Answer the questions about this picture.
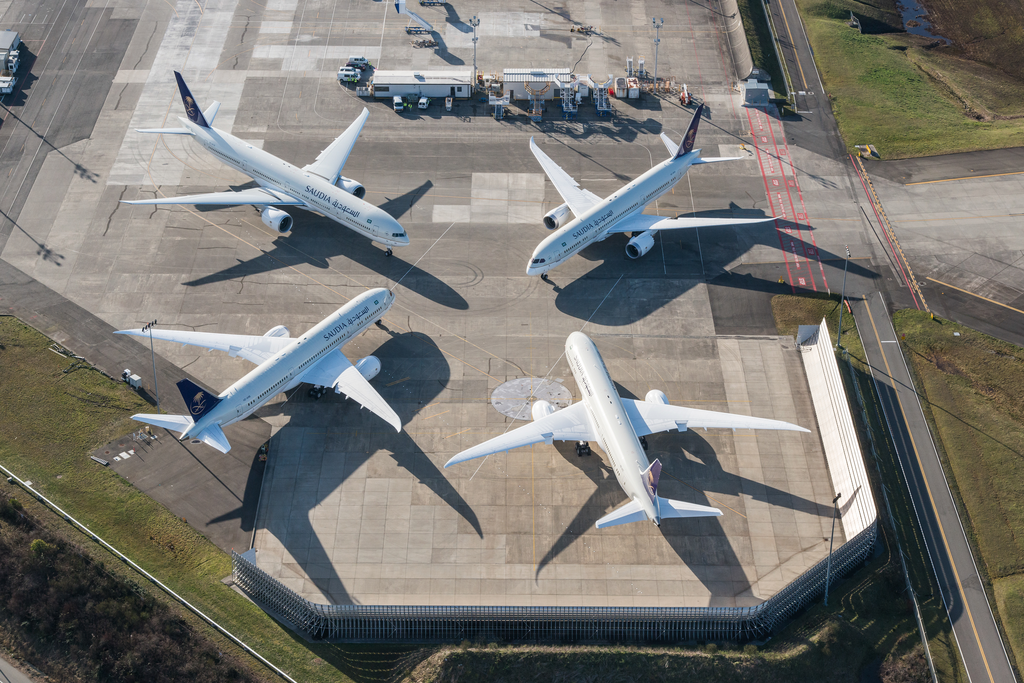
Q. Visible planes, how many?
4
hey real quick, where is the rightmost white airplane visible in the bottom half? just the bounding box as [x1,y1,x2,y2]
[445,330,810,529]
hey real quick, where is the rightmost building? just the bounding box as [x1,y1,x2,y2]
[740,76,770,102]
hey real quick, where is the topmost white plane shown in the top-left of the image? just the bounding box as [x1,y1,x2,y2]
[119,71,410,254]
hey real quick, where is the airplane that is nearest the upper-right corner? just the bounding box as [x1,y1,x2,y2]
[525,103,781,280]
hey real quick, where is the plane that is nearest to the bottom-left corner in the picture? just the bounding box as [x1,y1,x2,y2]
[114,287,401,454]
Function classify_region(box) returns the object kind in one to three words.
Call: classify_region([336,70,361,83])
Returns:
vehicle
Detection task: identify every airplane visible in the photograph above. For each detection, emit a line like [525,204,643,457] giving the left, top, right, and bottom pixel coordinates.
[119,71,410,254]
[114,287,401,454]
[445,330,810,529]
[525,103,781,280]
